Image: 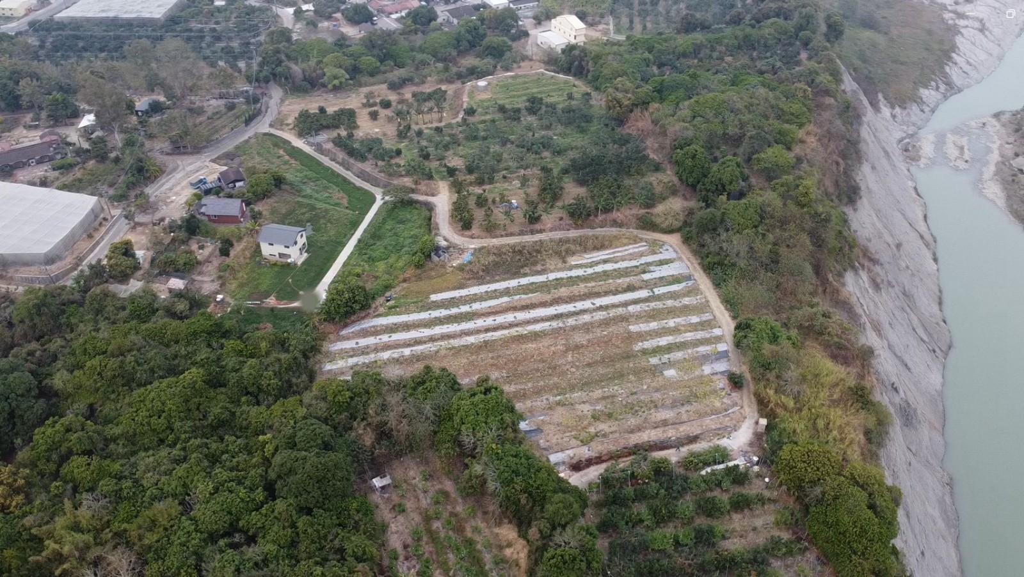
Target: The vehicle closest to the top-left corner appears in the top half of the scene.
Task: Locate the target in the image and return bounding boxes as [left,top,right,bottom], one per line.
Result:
[187,175,210,188]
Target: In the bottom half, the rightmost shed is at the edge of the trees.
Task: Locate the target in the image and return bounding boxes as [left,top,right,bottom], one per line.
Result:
[369,463,394,494]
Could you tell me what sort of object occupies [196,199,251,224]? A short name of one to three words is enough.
house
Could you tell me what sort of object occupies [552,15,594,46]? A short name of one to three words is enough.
house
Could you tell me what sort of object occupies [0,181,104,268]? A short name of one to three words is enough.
greenhouse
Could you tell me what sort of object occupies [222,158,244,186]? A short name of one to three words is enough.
shed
